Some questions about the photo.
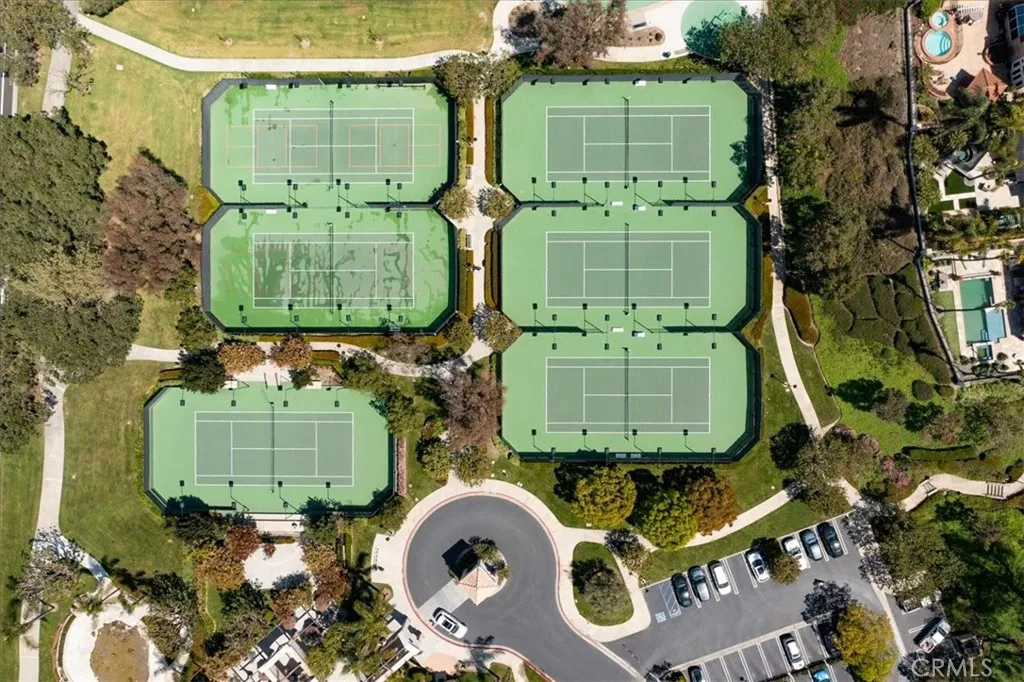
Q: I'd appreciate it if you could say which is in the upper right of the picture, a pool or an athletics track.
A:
pool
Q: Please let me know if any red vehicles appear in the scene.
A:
No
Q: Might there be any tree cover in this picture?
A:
Yes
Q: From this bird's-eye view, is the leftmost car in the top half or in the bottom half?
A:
bottom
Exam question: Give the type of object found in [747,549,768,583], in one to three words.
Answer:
car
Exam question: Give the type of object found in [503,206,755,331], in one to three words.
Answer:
tennis court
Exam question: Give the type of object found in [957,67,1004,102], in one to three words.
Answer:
building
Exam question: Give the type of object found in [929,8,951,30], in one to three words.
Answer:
swimming pool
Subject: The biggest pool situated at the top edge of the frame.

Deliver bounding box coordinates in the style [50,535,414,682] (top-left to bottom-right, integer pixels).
[919,24,957,61]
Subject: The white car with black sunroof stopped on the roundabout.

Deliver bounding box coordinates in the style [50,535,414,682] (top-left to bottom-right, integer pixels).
[435,609,468,638]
